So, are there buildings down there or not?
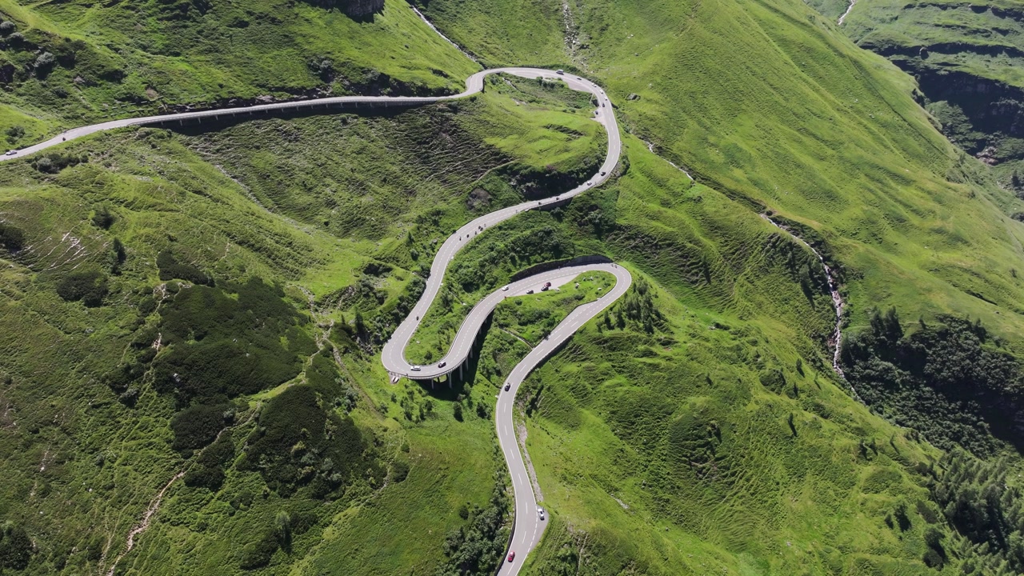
No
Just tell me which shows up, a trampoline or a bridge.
bridge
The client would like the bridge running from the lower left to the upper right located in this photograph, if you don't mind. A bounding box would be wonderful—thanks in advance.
[400,301,498,389]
